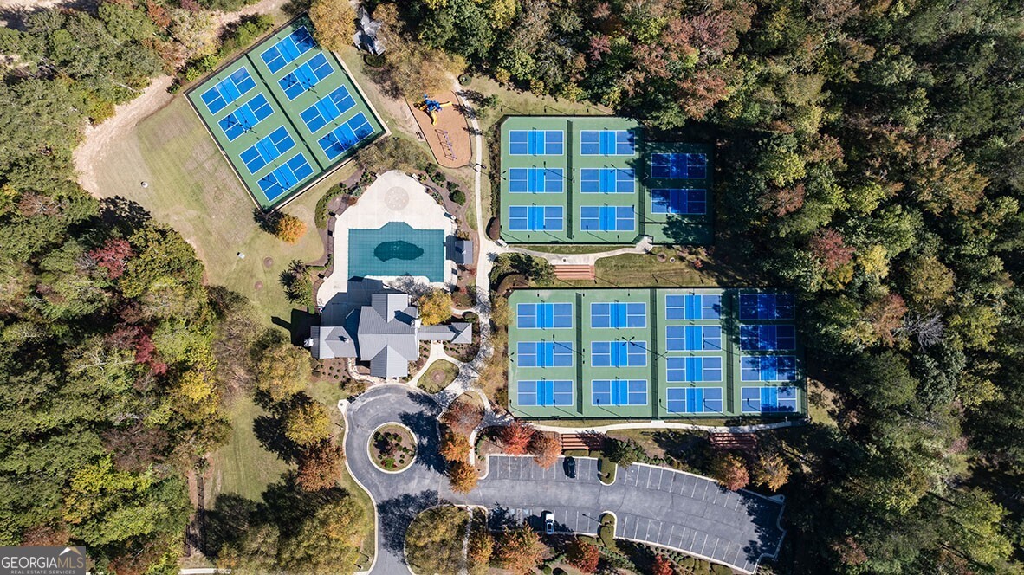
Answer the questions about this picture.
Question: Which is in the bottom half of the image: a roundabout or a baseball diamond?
roundabout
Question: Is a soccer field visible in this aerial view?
No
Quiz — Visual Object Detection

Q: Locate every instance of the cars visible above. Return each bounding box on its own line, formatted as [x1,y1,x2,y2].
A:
[567,459,576,478]
[546,514,554,534]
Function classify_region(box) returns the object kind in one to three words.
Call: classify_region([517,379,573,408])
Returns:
sports court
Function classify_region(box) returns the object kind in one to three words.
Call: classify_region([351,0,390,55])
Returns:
building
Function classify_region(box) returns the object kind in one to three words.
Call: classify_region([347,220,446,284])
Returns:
swimming pool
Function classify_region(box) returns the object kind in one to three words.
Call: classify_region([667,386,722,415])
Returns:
sports court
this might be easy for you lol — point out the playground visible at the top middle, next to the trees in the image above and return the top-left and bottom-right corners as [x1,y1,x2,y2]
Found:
[404,86,472,168]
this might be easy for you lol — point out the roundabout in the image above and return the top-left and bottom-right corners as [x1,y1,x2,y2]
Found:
[344,386,445,497]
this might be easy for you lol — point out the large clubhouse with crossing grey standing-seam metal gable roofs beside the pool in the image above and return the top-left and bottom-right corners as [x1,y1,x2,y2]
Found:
[306,293,472,380]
